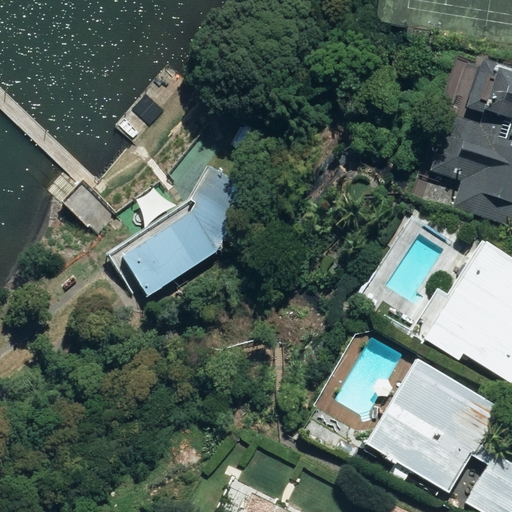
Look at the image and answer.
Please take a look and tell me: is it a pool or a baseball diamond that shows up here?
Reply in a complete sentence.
Of the two, only a pool appears.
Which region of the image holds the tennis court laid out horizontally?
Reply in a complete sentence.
The tennis court laid out horizontally appears toward the top right of the photo.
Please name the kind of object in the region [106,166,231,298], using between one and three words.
house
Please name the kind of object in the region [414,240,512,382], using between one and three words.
house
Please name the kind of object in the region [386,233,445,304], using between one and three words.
swimming pool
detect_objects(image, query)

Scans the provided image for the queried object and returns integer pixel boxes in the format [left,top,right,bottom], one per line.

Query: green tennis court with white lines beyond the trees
[379,0,512,41]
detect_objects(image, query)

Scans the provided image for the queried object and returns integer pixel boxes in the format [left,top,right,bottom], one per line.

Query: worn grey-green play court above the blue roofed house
[171,137,214,200]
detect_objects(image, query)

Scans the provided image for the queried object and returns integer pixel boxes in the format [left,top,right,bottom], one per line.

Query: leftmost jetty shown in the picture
[0,85,97,184]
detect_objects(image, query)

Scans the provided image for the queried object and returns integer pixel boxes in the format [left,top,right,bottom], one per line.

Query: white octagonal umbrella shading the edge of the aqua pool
[374,380,394,397]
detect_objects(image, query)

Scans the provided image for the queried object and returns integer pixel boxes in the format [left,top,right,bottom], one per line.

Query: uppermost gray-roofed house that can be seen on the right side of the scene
[431,54,512,226]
